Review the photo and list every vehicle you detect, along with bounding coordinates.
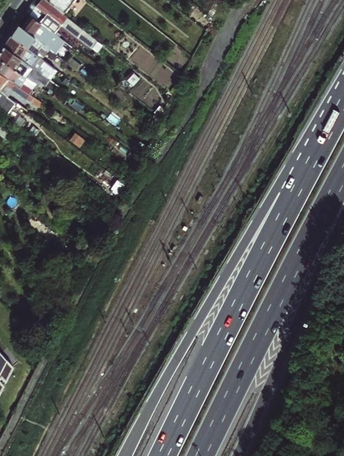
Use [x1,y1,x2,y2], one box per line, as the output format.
[282,224,290,234]
[318,109,340,143]
[158,432,166,442]
[224,316,232,326]
[254,276,262,288]
[286,177,294,188]
[317,155,326,167]
[226,334,234,346]
[239,310,246,320]
[176,434,184,446]
[272,321,280,333]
